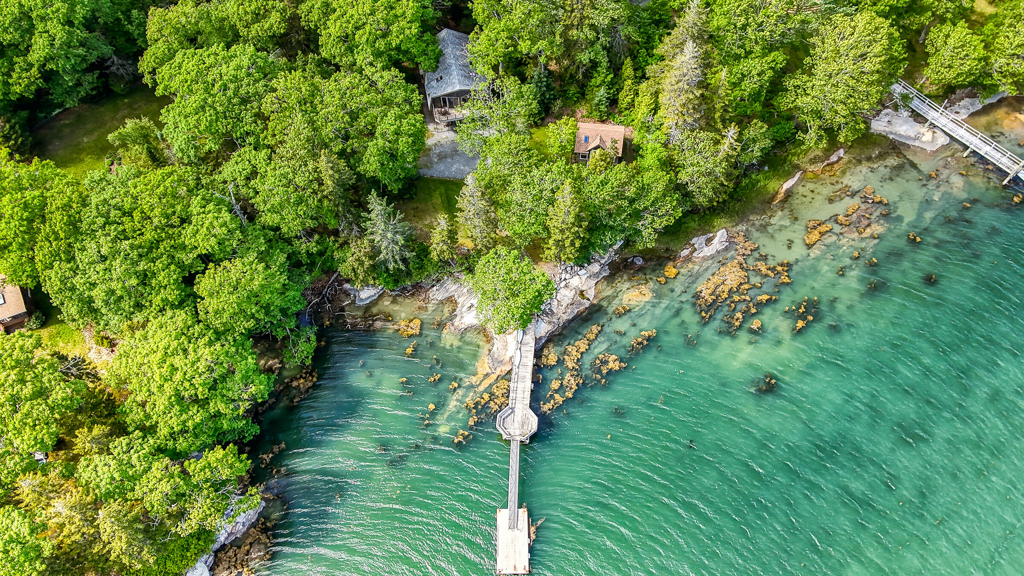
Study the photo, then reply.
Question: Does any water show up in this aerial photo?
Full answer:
Yes, some water is visible.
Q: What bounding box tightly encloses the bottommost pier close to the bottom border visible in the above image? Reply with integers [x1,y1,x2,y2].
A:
[496,508,531,575]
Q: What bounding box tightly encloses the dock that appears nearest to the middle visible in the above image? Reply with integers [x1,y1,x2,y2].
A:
[496,298,539,447]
